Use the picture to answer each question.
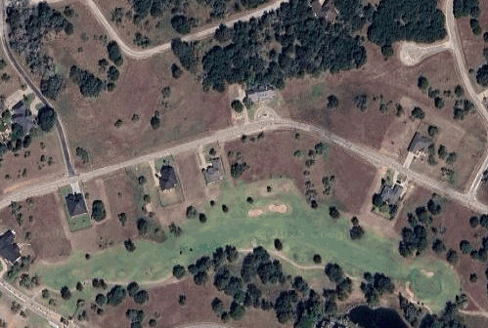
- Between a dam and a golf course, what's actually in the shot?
golf course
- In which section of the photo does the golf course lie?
bottom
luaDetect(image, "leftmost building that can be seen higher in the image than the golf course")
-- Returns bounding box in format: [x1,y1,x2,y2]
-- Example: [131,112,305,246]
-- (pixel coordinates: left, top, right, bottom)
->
[13,108,33,134]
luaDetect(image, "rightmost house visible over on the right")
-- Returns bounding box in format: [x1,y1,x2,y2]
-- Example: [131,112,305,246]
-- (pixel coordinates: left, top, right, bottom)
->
[406,133,432,153]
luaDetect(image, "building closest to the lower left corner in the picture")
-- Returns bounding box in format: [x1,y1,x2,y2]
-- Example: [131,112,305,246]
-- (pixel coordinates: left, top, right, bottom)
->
[0,231,20,262]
